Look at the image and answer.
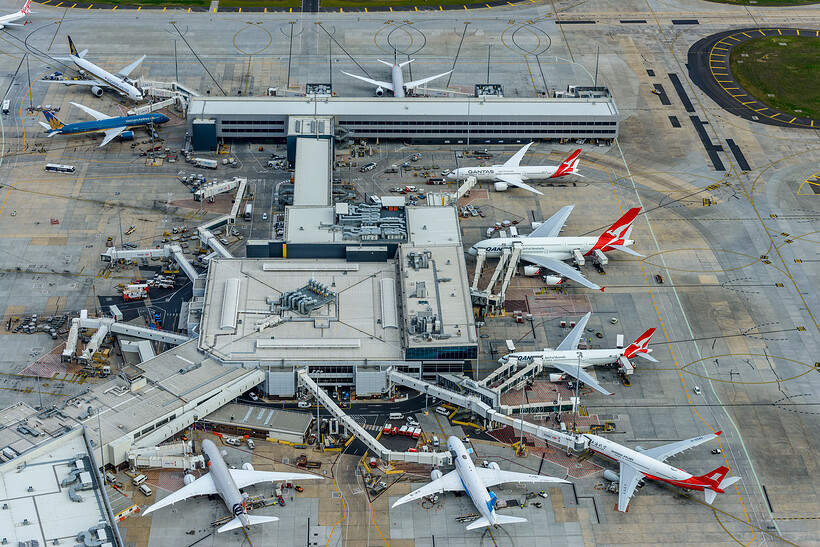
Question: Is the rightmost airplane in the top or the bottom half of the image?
bottom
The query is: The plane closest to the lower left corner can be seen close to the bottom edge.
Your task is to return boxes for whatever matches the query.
[144,443,324,536]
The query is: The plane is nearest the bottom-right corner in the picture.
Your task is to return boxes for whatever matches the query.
[585,432,745,515]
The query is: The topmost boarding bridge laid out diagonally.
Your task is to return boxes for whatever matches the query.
[427,175,477,210]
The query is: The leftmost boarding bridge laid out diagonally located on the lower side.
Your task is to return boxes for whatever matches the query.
[78,321,110,365]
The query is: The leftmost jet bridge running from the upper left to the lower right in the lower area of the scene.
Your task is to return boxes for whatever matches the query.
[299,372,457,477]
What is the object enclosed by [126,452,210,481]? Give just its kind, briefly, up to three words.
jet bridge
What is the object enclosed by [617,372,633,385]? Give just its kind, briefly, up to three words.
vehicle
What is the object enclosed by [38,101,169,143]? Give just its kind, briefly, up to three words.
airplane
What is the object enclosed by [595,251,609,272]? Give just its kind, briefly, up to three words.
vehicle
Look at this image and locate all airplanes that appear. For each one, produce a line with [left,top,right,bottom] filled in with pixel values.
[38,33,145,101]
[448,141,587,193]
[0,0,42,33]
[144,443,324,536]
[585,432,745,515]
[38,101,169,143]
[500,309,661,393]
[394,438,572,531]
[341,41,453,96]
[471,200,650,288]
